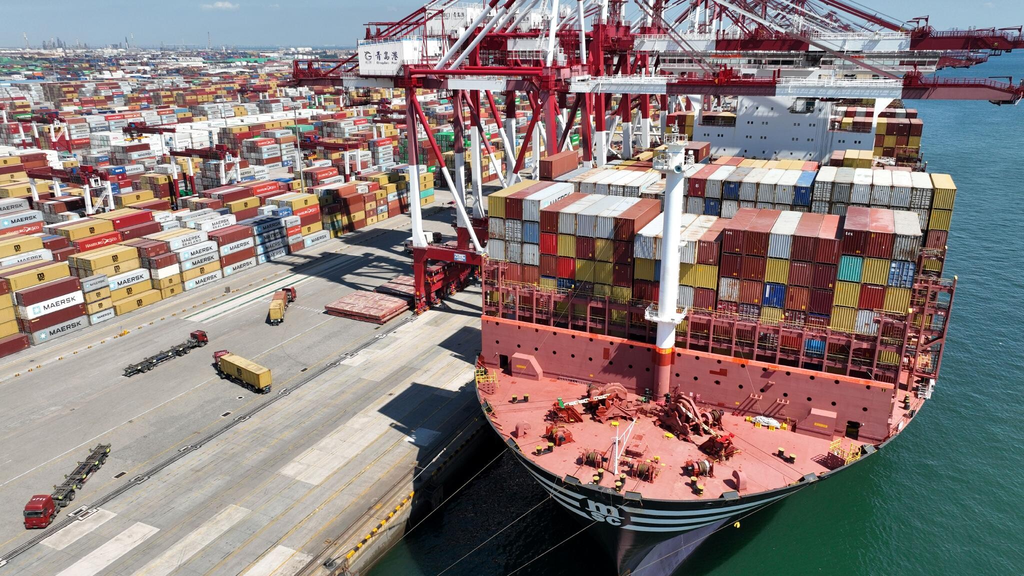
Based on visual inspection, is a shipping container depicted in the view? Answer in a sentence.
Yes, a shipping container is visible in the scene.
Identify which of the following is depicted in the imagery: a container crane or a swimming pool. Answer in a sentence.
The one in the frame is a container crane.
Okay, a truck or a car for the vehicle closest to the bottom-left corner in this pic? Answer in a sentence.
In the photo, the vehicle closest to the bottom-left corner shows up as a truck.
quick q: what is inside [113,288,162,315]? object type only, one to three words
shipping container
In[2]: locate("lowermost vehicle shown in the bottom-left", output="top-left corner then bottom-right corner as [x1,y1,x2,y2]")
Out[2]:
[22,445,109,524]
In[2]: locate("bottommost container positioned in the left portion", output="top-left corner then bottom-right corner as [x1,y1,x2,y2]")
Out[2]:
[222,353,281,383]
